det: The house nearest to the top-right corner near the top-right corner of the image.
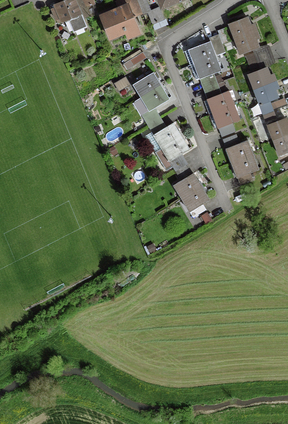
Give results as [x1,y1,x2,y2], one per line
[228,16,260,65]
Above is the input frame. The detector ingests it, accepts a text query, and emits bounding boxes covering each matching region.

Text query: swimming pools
[134,170,145,182]
[106,128,123,142]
